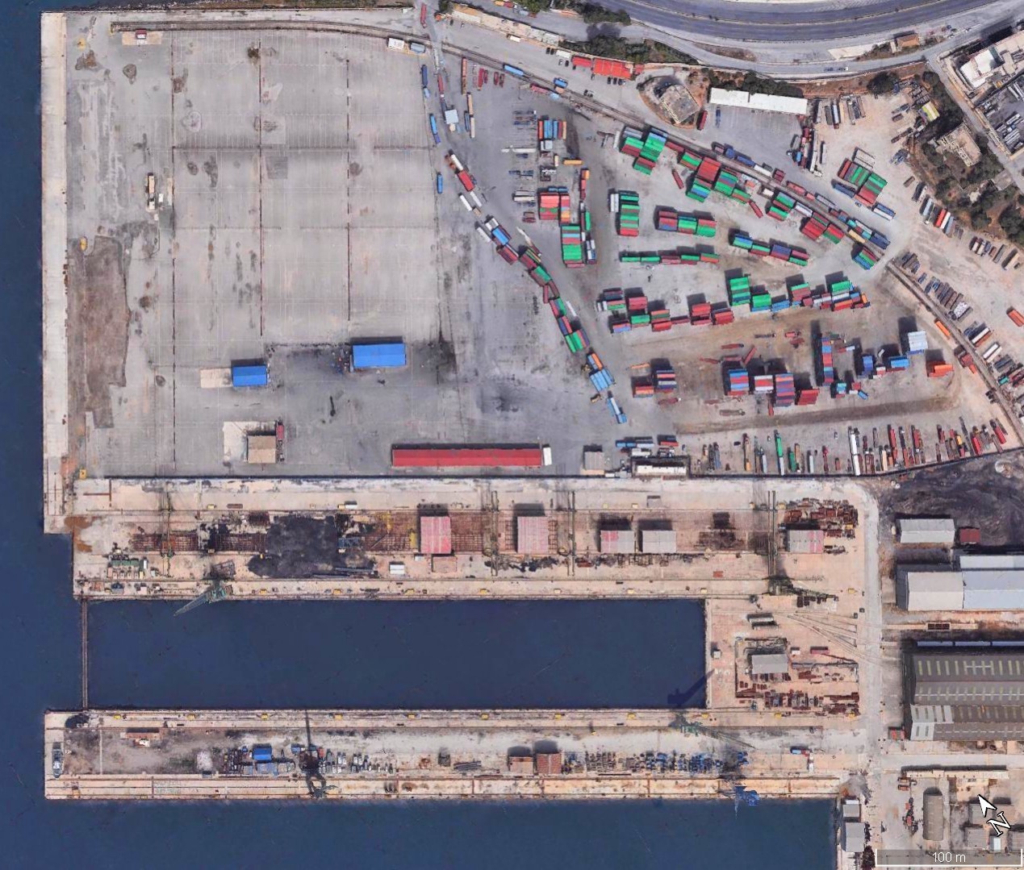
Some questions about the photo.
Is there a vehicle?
Yes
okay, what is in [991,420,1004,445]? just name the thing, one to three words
vehicle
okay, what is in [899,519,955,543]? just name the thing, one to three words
building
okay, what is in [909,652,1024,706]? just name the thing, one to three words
building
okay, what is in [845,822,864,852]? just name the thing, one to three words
shed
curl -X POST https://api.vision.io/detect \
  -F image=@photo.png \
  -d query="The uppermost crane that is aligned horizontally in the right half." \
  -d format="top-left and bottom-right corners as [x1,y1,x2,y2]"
[765,577,837,600]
